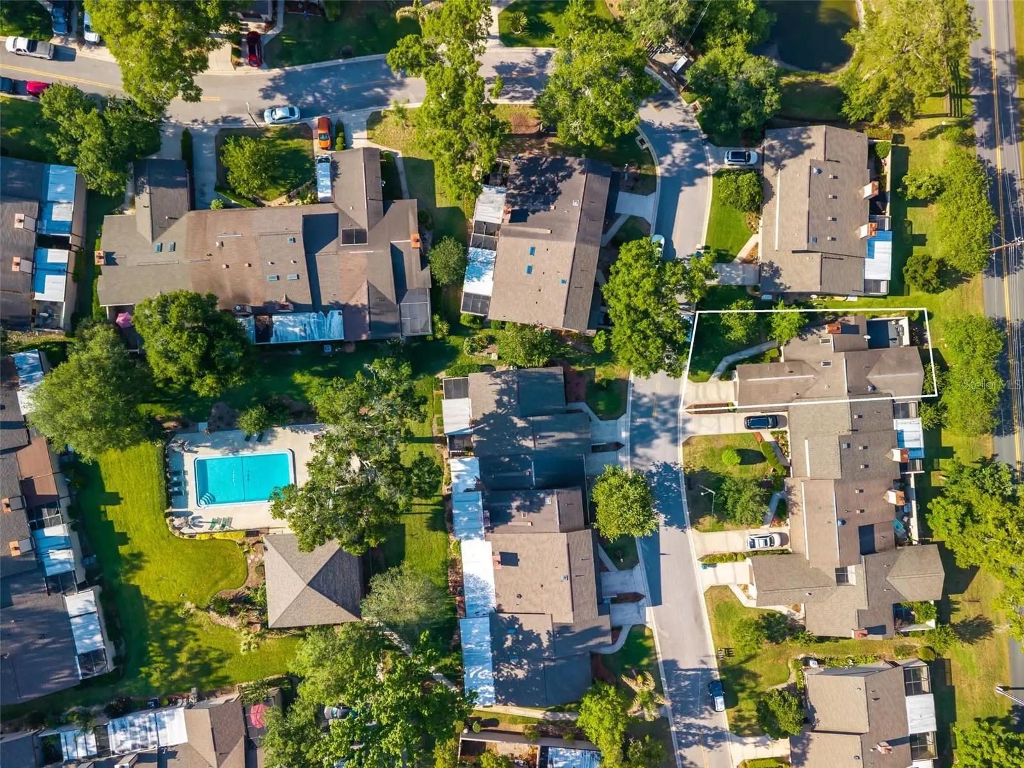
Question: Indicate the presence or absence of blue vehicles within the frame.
Yes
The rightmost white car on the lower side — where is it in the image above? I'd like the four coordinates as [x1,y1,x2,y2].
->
[746,533,781,551]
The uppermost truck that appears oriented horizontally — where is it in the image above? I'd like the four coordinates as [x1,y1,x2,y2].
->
[6,36,54,61]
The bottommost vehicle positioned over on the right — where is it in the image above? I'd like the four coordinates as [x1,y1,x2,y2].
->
[707,677,727,713]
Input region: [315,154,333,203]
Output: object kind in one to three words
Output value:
vehicle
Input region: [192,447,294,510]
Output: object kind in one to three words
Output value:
swimming pool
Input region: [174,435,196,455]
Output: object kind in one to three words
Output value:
umbrella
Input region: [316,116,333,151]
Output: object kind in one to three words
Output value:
car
